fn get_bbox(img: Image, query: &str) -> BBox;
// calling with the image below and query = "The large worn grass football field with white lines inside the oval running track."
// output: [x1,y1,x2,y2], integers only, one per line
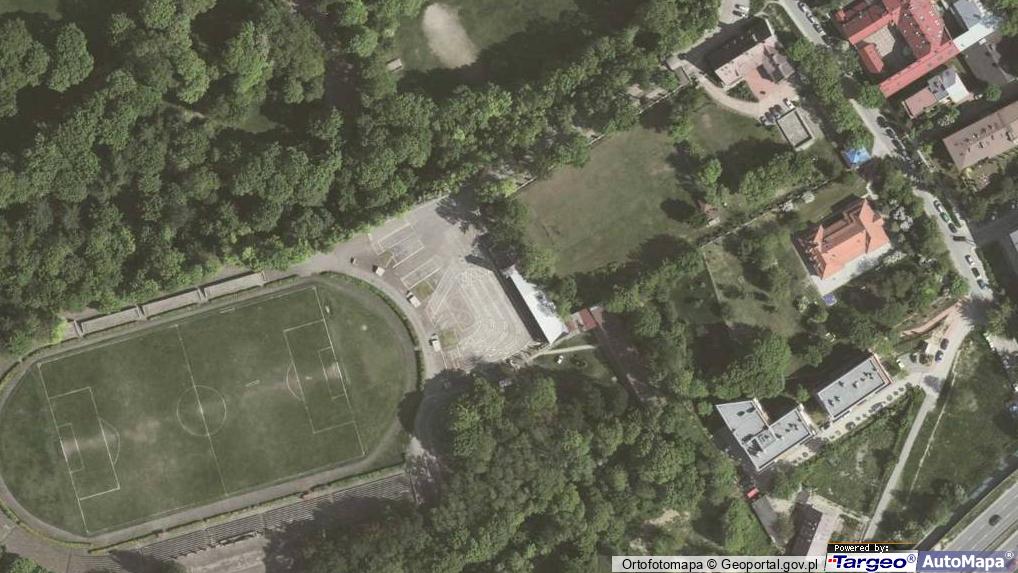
[40,287,364,533]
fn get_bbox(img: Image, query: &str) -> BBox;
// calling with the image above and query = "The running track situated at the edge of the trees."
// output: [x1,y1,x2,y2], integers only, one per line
[0,280,409,540]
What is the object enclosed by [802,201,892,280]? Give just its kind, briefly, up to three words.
house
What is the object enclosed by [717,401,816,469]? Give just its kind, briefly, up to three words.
building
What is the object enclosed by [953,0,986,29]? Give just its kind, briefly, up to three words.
house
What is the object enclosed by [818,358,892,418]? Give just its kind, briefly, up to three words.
building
